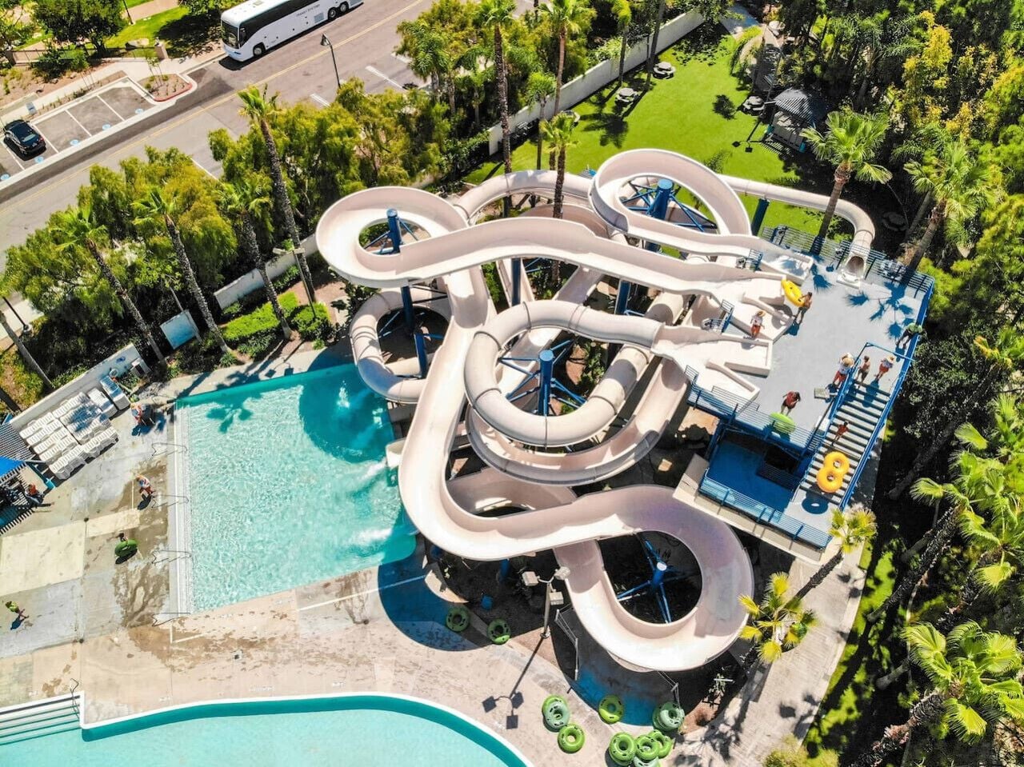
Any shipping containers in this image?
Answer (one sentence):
No, the picture doesn't show any shipping container.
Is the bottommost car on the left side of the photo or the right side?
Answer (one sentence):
The bottommost car appears in the left half of the scene.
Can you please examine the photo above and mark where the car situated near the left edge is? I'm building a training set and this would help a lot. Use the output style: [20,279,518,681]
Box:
[0,119,45,157]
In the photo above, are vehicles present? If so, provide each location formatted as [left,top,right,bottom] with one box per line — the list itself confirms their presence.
[0,119,45,157]
[209,0,361,59]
